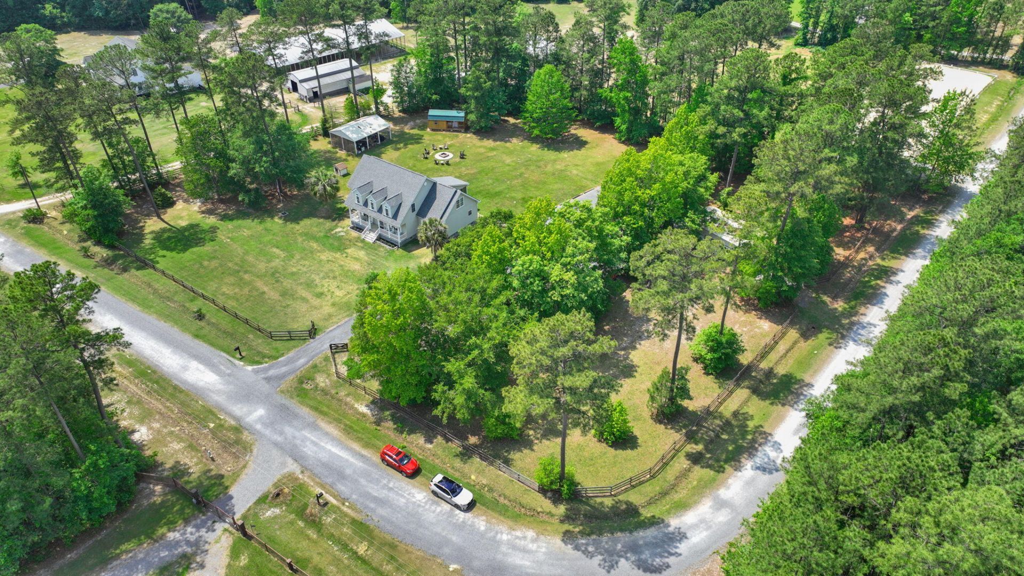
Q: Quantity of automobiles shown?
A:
2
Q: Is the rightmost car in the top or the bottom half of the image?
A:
bottom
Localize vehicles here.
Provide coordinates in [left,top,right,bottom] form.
[383,439,428,473]
[432,468,479,504]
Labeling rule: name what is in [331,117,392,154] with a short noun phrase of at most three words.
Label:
shed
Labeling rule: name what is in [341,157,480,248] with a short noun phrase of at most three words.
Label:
house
